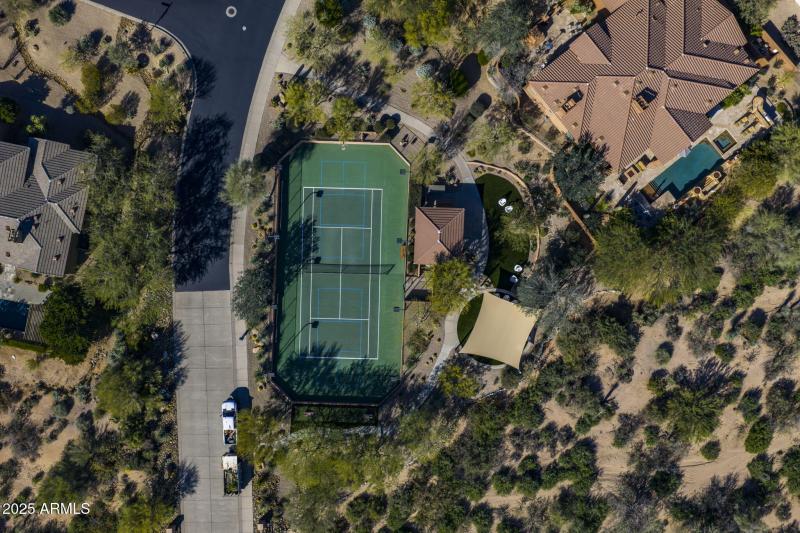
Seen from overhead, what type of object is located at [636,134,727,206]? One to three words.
swimming pool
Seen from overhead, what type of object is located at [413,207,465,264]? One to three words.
building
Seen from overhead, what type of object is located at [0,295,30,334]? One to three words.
swimming pool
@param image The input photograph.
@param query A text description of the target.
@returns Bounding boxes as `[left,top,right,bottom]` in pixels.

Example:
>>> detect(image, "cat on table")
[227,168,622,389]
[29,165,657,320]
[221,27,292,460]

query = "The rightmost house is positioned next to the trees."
[525,0,761,173]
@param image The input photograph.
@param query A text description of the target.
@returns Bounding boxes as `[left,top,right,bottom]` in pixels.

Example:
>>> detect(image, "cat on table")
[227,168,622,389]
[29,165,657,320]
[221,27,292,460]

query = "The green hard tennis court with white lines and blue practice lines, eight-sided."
[277,142,409,400]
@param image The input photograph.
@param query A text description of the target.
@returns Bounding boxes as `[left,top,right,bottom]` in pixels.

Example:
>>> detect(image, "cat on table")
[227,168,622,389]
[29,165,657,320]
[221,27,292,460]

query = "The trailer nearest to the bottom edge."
[217,450,241,501]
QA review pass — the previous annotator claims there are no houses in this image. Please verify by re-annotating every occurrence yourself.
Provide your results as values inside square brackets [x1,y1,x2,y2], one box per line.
[525,0,761,173]
[0,140,109,275]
